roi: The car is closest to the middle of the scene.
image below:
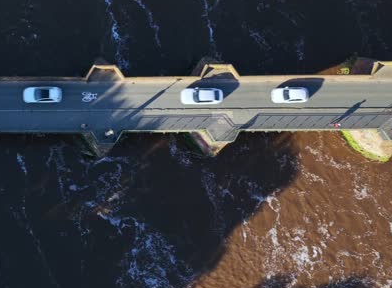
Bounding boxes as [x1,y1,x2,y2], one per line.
[178,86,223,106]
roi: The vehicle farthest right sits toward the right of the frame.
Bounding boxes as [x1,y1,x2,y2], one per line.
[269,85,310,104]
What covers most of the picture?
water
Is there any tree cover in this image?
No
